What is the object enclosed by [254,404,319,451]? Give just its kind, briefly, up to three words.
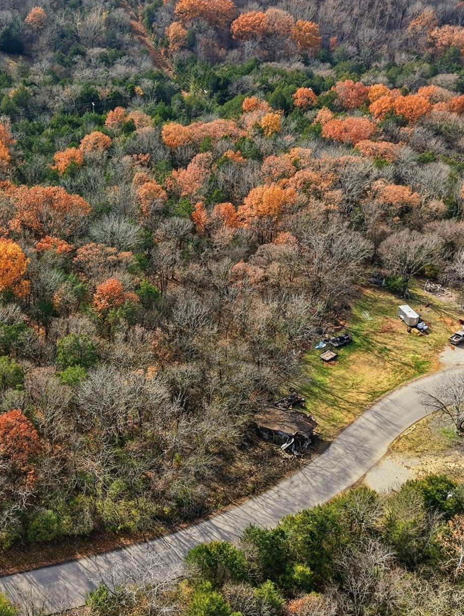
shed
